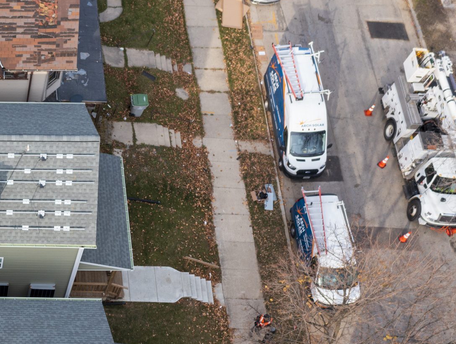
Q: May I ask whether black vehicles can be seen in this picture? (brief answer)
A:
No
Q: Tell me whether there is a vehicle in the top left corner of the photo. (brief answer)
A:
No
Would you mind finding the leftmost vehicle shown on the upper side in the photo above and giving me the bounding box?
[266,46,346,185]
